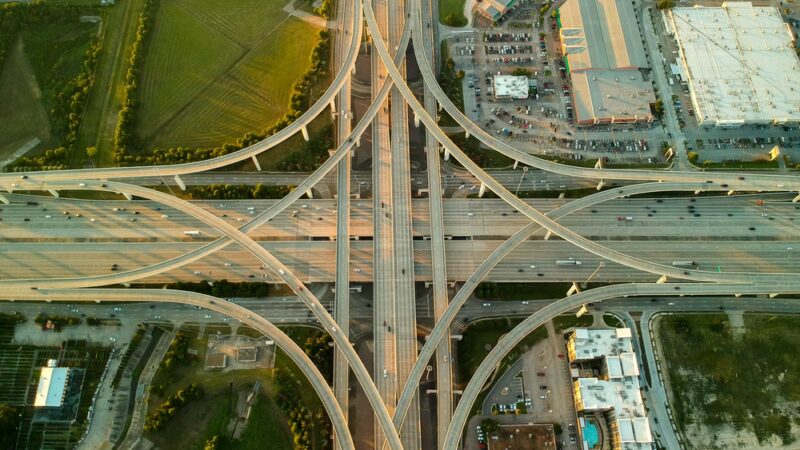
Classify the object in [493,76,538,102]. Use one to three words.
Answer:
building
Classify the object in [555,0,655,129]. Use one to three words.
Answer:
building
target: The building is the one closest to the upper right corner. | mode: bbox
[659,2,800,133]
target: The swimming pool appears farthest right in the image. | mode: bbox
[576,413,612,450]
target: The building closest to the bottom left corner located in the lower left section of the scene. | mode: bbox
[34,366,74,408]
